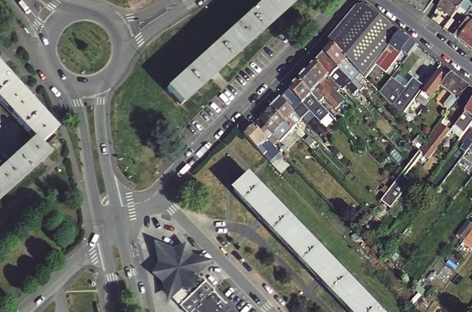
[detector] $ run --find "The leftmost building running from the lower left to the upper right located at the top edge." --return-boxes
[166,0,298,105]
